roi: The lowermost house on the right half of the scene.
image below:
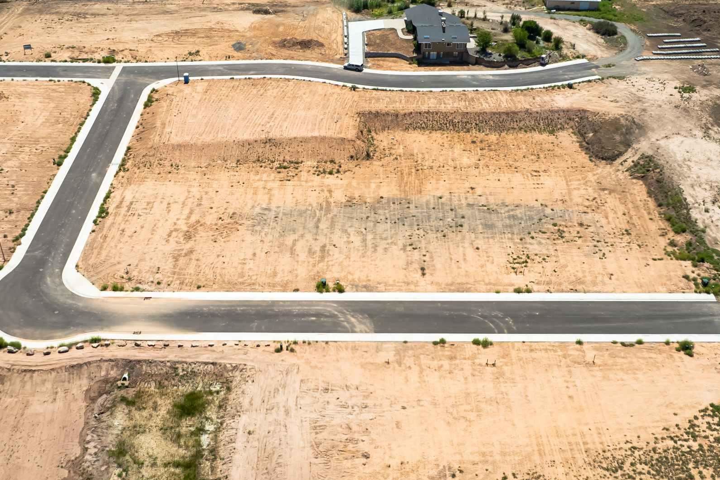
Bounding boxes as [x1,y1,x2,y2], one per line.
[402,10,472,65]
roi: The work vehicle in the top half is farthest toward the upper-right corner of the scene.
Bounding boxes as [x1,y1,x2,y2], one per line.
[542,52,556,65]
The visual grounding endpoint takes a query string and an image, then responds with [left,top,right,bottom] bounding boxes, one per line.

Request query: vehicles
[341,62,362,70]
[542,52,556,65]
